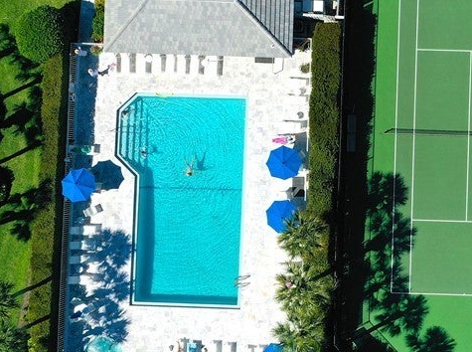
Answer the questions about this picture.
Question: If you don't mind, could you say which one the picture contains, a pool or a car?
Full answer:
There is a pool in the scene.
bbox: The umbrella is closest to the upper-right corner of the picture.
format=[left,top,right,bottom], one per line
[267,144,301,179]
